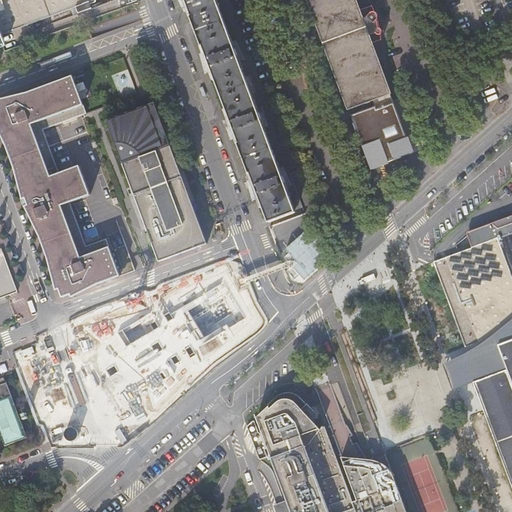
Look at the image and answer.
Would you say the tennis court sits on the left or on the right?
right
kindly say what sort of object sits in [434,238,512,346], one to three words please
building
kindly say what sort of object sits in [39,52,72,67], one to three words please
vehicle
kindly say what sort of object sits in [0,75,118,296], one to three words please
building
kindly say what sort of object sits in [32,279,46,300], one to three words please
vehicle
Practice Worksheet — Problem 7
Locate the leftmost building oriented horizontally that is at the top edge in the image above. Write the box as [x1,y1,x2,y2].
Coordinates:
[8,0,78,29]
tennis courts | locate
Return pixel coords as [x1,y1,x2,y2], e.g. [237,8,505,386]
[378,436,462,512]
